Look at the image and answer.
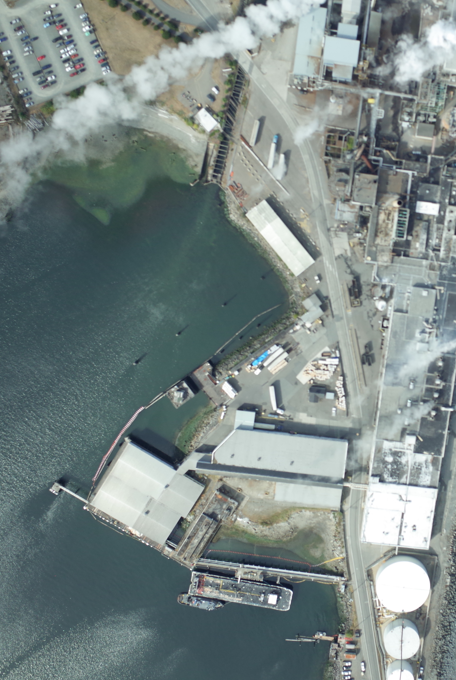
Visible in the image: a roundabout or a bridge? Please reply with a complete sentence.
I can see a bridge in this picture.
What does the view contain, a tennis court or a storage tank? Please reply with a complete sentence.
The image shows a storage tank.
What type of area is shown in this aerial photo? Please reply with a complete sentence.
It's a port.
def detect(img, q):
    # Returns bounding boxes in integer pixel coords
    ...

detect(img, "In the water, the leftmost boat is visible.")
[176,592,225,611]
